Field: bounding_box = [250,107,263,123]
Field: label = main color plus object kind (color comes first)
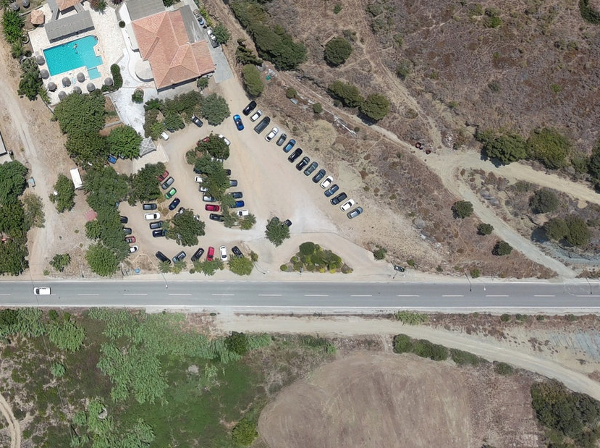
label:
white vehicle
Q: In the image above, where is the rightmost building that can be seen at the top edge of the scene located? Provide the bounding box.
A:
[124,0,214,89]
